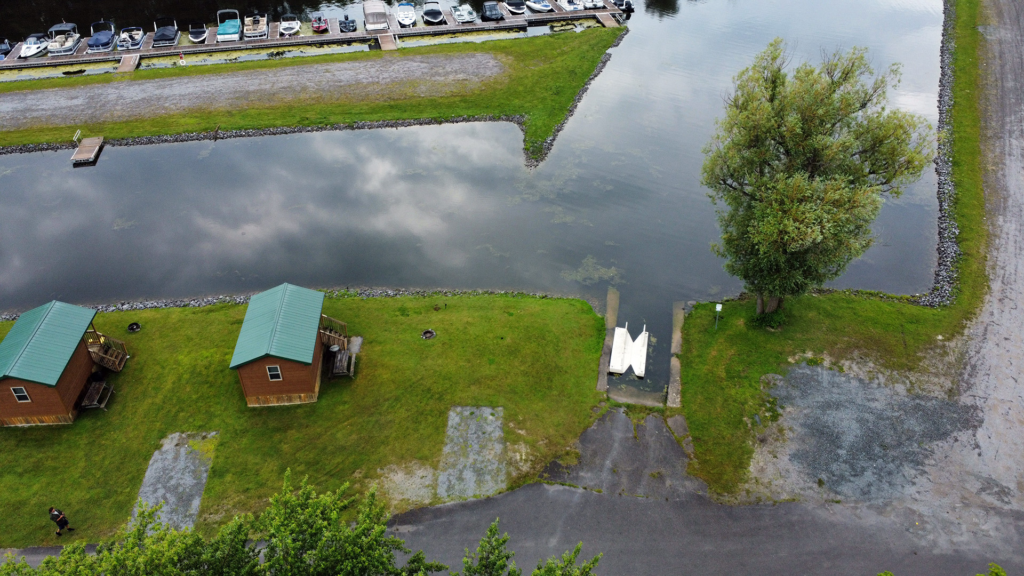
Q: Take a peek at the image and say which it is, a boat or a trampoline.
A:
boat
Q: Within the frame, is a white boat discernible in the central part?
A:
No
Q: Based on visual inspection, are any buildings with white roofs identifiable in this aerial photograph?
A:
No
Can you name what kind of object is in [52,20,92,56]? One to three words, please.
boat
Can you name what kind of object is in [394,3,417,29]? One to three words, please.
boat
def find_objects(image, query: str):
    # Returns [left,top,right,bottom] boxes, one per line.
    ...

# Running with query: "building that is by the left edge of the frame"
[0,300,131,429]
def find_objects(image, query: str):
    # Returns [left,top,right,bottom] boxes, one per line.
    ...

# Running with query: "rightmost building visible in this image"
[230,282,351,407]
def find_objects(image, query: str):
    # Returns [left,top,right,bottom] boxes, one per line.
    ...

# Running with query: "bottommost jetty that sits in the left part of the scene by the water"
[71,128,102,164]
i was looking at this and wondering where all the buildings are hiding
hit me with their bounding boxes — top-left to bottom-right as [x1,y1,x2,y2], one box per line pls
[230,282,351,407]
[0,300,131,429]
